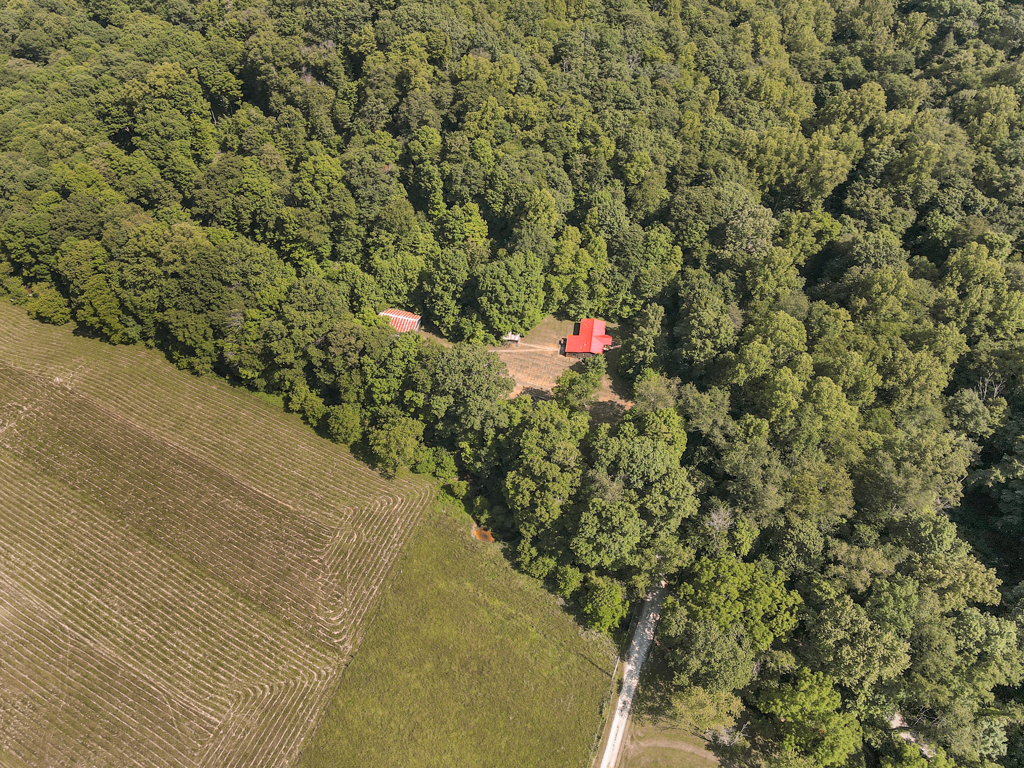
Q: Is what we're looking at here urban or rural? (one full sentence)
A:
It looks rural.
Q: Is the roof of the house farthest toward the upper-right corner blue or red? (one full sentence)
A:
From above, the roof of the house farthest toward the upper-right corner appears red.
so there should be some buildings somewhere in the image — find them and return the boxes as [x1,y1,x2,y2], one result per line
[563,322,612,363]
[377,309,425,340]
[503,331,520,343]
